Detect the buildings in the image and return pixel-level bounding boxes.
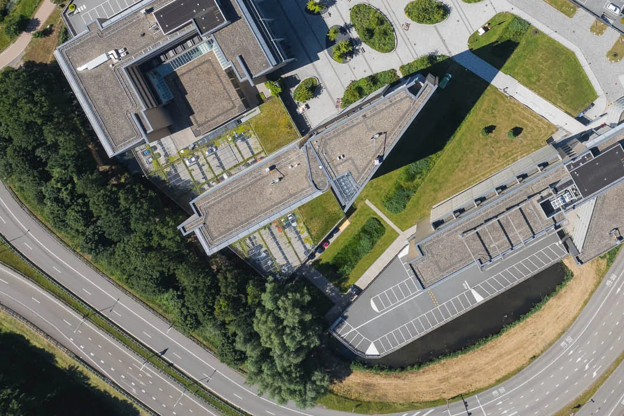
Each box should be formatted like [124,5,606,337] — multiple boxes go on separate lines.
[179,74,438,256]
[55,0,294,157]
[409,118,624,288]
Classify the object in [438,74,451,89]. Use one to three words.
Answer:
vehicle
